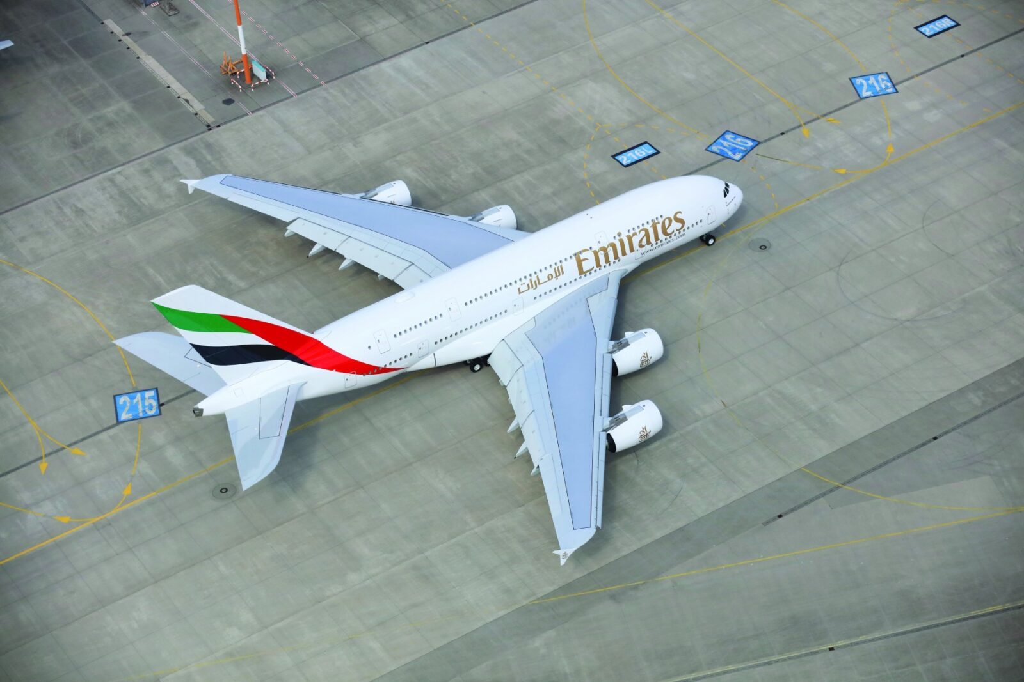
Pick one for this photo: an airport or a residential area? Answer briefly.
airport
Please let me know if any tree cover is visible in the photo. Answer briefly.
No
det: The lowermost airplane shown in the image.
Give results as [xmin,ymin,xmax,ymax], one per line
[113,175,743,566]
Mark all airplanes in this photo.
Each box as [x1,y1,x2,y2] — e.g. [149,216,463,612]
[0,39,14,48]
[113,175,743,566]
